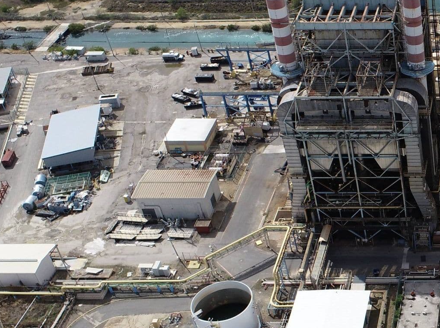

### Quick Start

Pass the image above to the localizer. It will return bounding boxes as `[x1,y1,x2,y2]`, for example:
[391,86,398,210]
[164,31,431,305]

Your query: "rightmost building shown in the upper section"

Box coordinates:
[279,0,440,237]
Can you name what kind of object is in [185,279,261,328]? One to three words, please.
storage tank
